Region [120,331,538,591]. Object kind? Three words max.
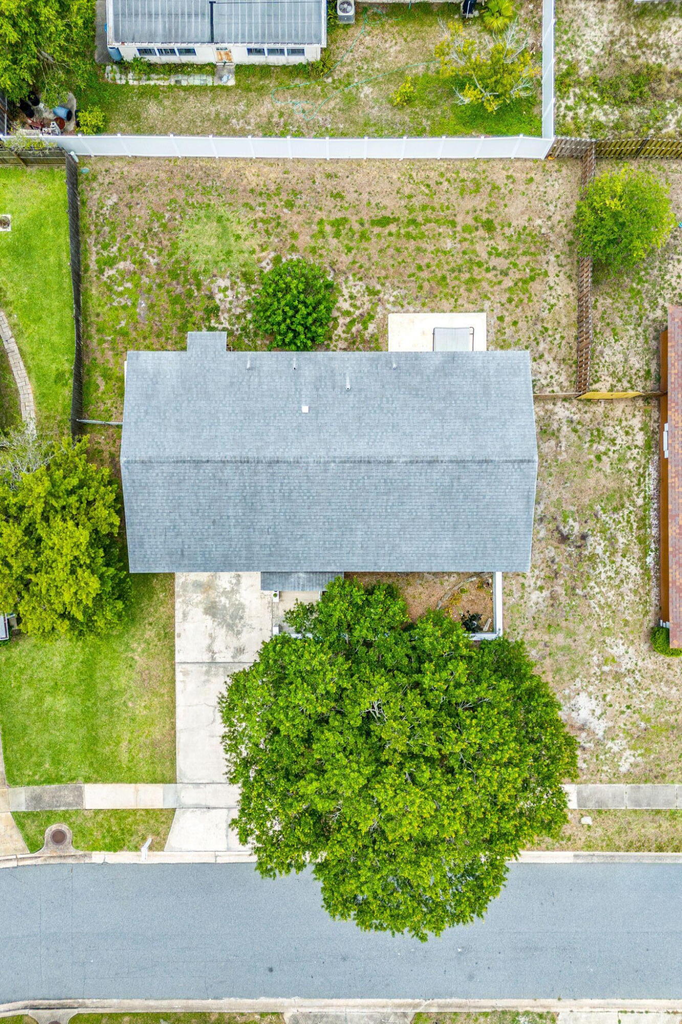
house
